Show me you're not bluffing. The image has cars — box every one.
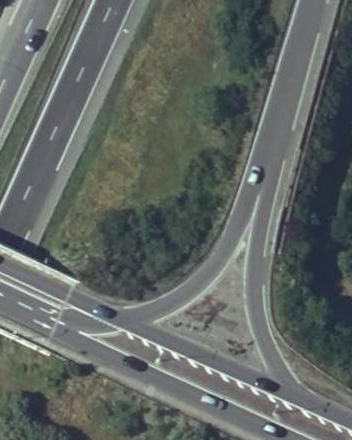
[264,423,285,438]
[256,378,278,393]
[27,30,42,51]
[93,304,114,320]
[248,164,262,186]
[202,394,223,410]
[124,356,145,372]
